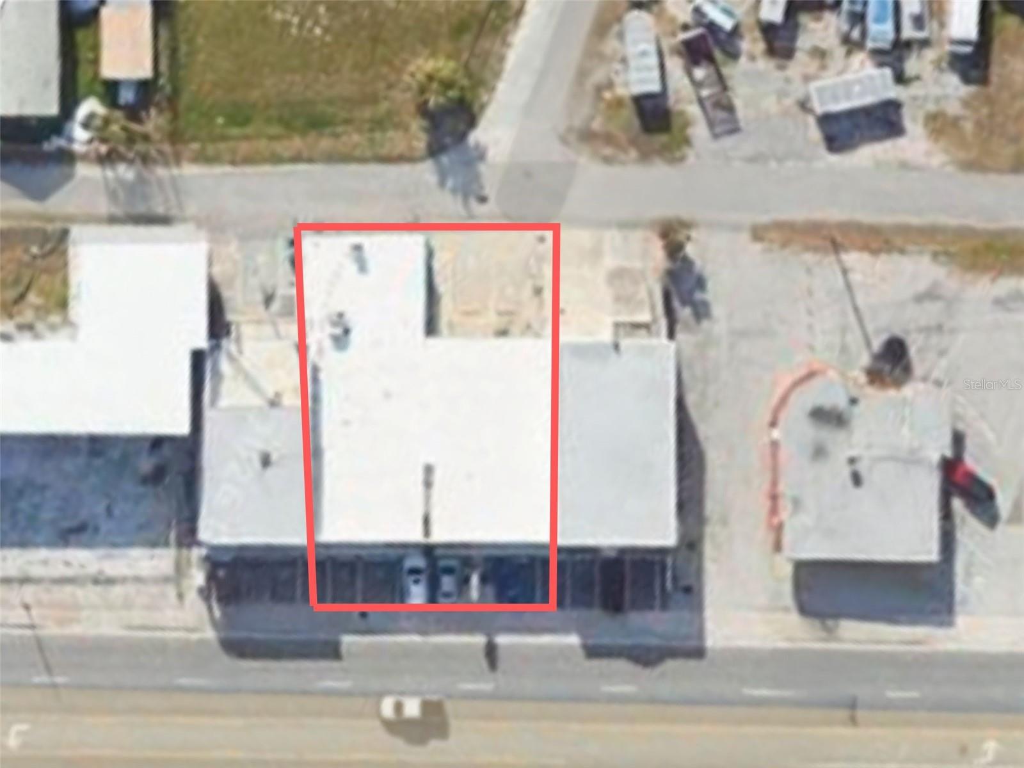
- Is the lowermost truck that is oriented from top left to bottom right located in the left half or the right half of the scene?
right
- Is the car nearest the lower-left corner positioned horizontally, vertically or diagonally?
vertically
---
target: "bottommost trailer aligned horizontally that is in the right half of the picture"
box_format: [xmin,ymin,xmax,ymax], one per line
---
[800,69,894,112]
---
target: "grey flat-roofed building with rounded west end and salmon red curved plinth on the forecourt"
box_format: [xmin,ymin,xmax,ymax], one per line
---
[769,363,954,564]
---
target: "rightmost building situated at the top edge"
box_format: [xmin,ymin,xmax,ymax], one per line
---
[100,0,153,104]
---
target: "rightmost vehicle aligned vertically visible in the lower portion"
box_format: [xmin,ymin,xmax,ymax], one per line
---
[600,554,627,612]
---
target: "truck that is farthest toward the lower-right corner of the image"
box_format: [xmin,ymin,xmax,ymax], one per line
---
[942,453,998,518]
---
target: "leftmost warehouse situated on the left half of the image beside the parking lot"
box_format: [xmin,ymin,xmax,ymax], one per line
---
[0,227,209,437]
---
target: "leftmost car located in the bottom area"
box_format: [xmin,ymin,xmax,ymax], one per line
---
[210,554,236,606]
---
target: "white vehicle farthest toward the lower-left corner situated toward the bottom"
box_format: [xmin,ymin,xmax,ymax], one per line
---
[380,696,445,722]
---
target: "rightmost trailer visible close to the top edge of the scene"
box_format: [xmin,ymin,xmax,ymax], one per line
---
[952,0,980,47]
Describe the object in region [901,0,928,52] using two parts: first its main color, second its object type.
white trailer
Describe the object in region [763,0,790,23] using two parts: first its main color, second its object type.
white camper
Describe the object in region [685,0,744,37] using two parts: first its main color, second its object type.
white vehicle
